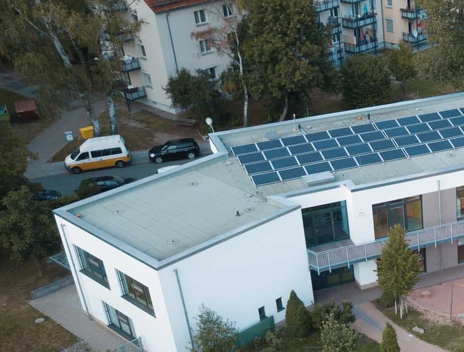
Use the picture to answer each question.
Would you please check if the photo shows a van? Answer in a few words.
Yes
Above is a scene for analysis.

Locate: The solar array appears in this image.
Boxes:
[231,105,464,187]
